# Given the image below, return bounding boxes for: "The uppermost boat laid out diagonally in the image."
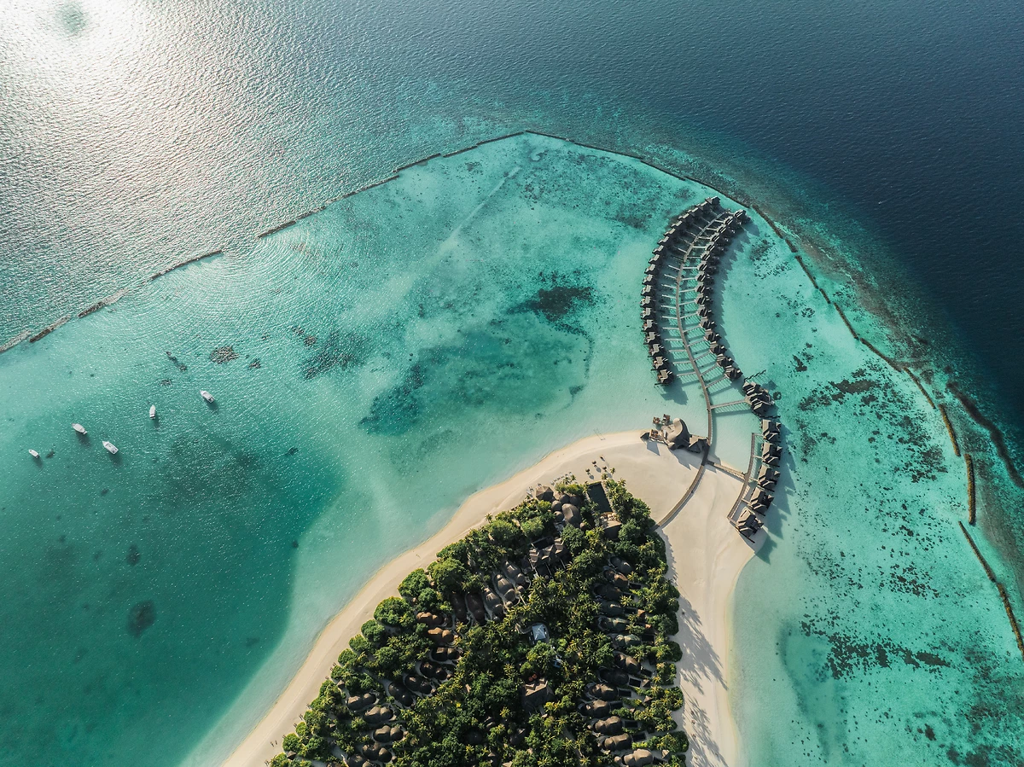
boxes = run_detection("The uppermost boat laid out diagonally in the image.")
[200,390,216,404]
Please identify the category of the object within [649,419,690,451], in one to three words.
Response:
building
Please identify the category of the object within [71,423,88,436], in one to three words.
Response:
boat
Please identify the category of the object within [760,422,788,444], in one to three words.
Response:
house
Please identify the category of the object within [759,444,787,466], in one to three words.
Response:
house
